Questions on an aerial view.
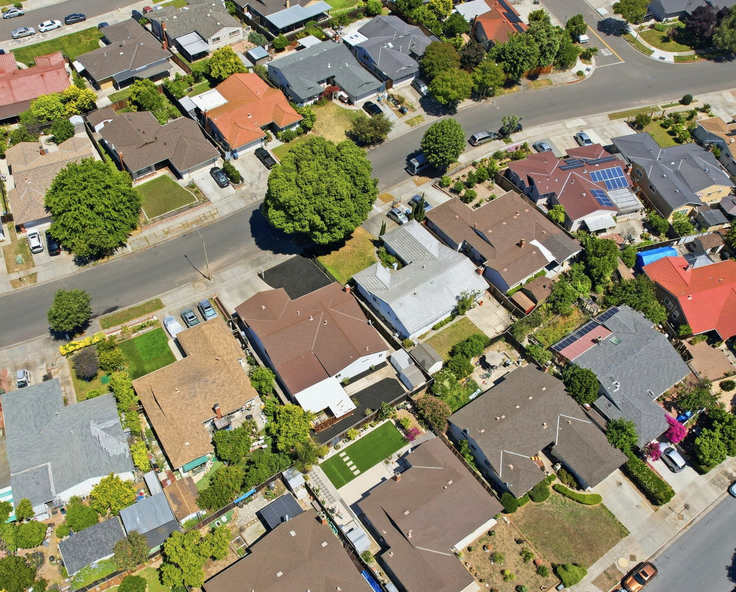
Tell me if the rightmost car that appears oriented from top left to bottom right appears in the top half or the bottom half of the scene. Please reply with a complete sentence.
It is in the bottom half that the rightmost car that appears oriented from top left to bottom right appears.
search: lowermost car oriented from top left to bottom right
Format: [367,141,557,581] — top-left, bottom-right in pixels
[656,439,693,474]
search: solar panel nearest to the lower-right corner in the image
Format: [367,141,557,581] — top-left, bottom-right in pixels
[554,307,618,352]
